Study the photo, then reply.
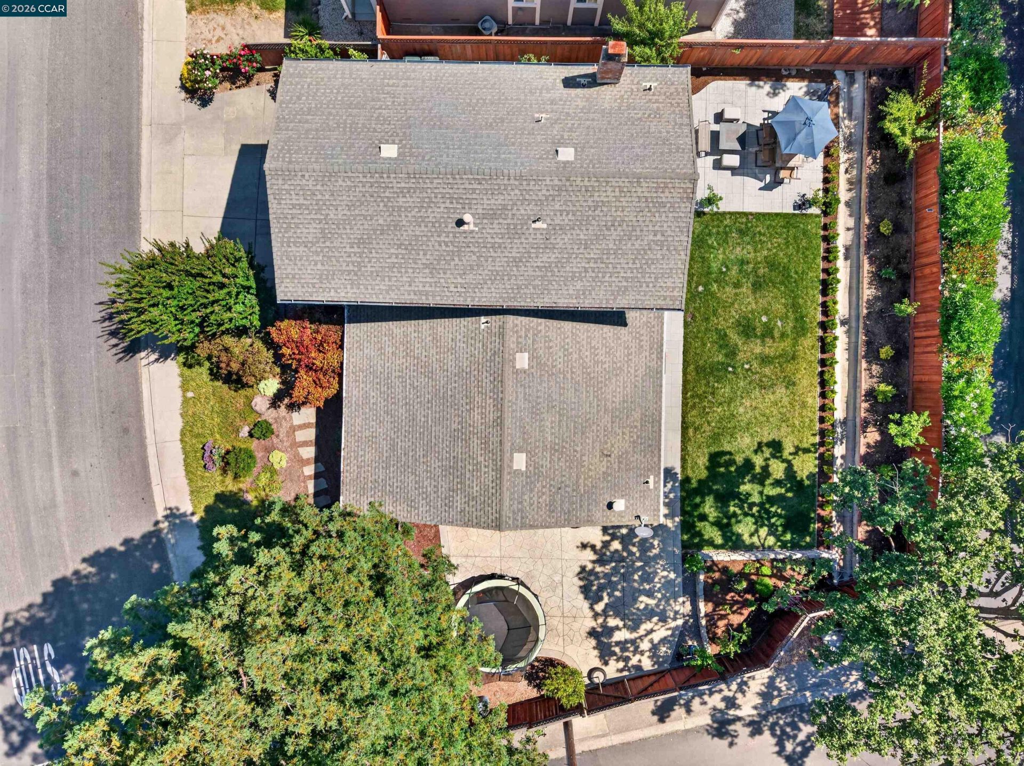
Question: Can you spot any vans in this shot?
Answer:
No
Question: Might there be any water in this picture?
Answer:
No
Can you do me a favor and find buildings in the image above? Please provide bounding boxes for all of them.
[340,0,727,26]
[263,38,700,531]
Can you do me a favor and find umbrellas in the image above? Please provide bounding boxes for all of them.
[807,78,842,102]
[772,96,839,159]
